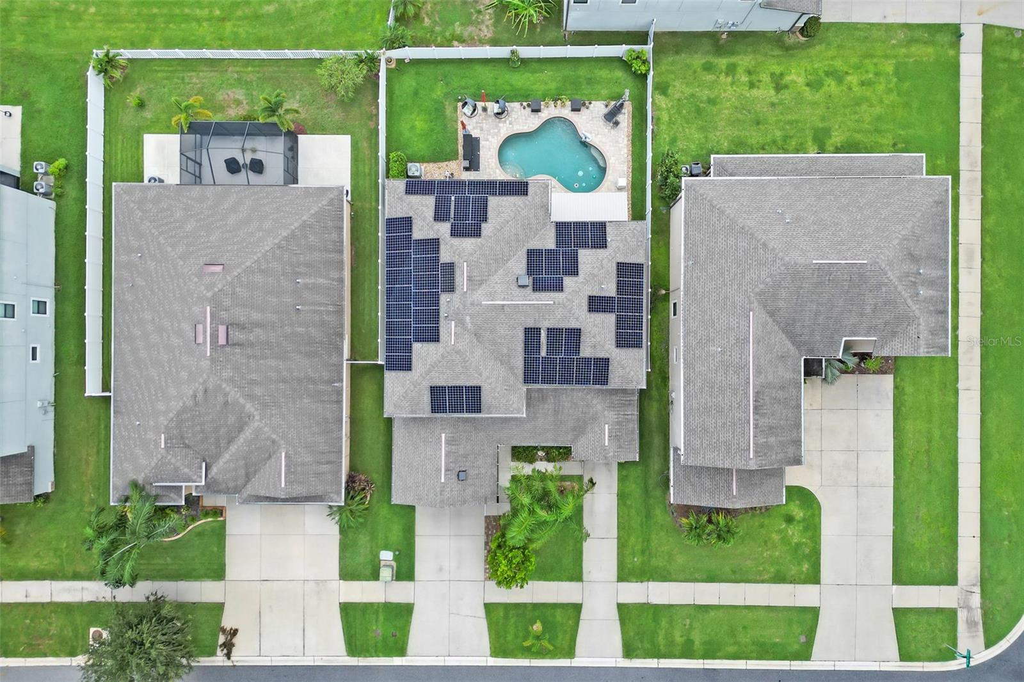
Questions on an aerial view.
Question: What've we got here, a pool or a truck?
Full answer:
The image shows a pool.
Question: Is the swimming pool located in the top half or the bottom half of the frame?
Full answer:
The swimming pool sits in the top half of the picture.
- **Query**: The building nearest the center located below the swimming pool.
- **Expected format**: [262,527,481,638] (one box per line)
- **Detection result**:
[385,178,646,509]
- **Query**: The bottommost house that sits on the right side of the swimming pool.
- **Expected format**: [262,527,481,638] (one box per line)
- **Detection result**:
[668,153,952,511]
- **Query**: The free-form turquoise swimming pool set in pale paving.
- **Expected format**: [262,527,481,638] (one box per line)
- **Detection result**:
[494,112,612,191]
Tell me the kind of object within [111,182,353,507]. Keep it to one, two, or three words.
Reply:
house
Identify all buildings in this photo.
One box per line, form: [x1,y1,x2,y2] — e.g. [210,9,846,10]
[111,182,353,507]
[385,178,646,509]
[566,0,824,35]
[668,153,952,511]
[0,169,61,504]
